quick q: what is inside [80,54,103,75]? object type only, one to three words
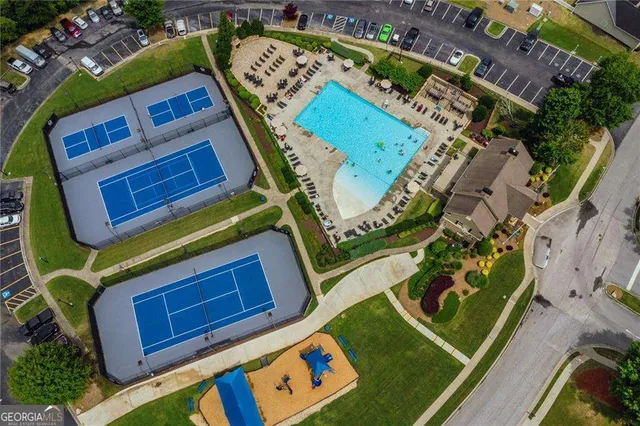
vehicle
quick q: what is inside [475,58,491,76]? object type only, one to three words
car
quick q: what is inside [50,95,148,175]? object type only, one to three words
sports court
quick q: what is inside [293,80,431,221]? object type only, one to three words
swimming pool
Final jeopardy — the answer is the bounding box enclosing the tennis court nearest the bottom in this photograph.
[95,230,309,381]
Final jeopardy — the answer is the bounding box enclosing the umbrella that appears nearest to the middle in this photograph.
[294,164,309,178]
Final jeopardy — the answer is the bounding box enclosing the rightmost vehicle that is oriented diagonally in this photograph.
[521,30,539,50]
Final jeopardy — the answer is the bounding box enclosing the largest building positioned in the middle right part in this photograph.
[442,139,539,239]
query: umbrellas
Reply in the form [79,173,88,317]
[406,181,421,194]
[274,126,288,138]
[294,164,309,178]
[295,56,309,69]
[342,59,355,71]
[379,79,393,92]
